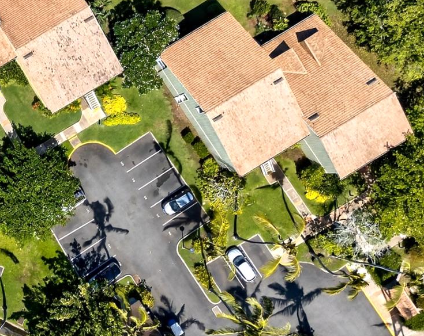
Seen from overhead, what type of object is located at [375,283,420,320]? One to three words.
building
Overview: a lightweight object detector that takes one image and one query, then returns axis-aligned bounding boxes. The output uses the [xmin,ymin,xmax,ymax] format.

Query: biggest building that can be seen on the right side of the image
[154,11,413,182]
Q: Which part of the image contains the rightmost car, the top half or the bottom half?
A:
bottom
